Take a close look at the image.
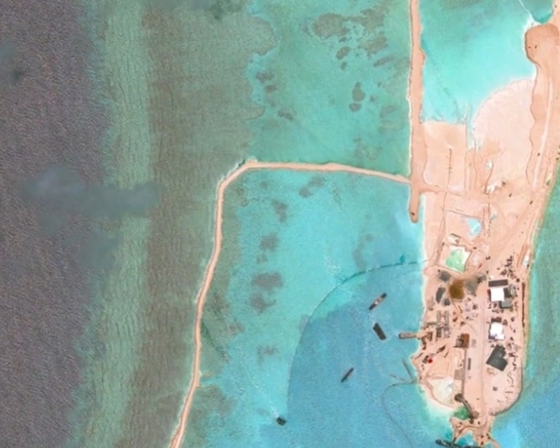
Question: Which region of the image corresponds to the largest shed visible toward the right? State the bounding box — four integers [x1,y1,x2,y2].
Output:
[486,344,508,371]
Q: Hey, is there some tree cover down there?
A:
No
